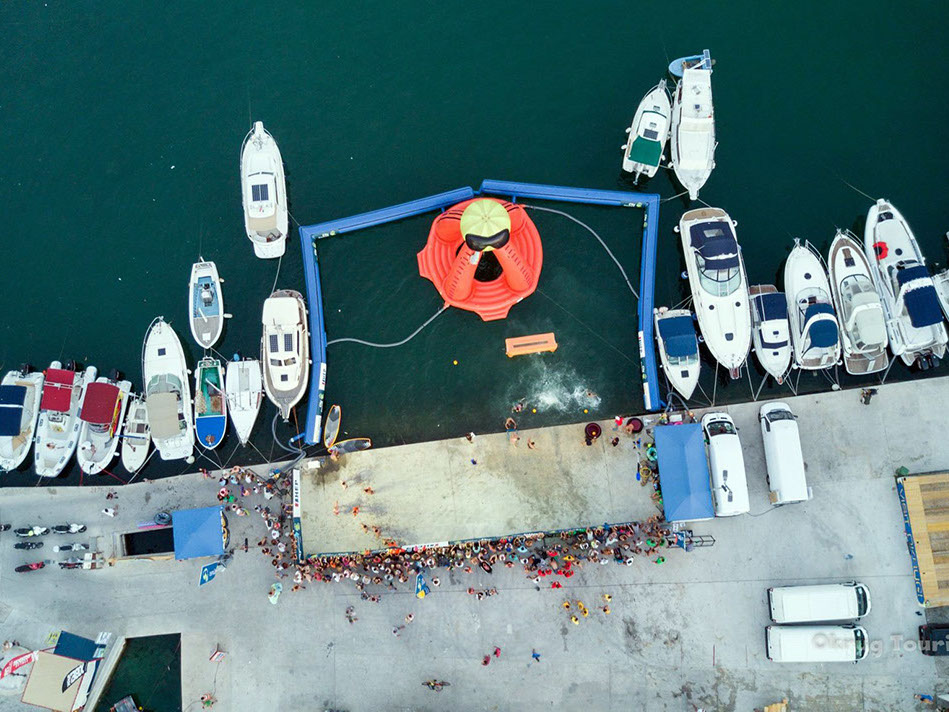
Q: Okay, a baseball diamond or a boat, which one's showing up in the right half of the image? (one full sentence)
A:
There is a boat in the right half of the image.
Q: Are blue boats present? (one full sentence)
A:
Yes, a blue boat appears in the view.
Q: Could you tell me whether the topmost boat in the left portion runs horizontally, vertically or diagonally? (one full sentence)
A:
Seen from above, the topmost boat in the left portion lies vertically.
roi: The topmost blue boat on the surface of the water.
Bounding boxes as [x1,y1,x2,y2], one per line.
[659,54,715,82]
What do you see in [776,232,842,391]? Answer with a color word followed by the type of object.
white boat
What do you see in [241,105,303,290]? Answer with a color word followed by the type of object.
white boat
